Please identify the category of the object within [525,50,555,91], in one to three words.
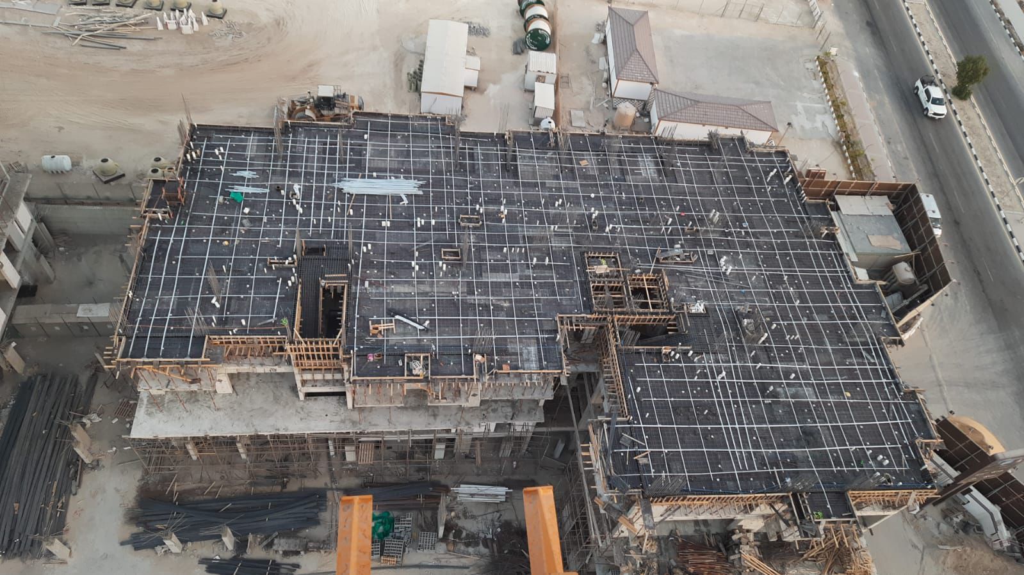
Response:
building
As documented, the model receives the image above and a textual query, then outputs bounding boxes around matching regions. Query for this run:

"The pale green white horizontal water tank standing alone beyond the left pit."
[39,158,75,182]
